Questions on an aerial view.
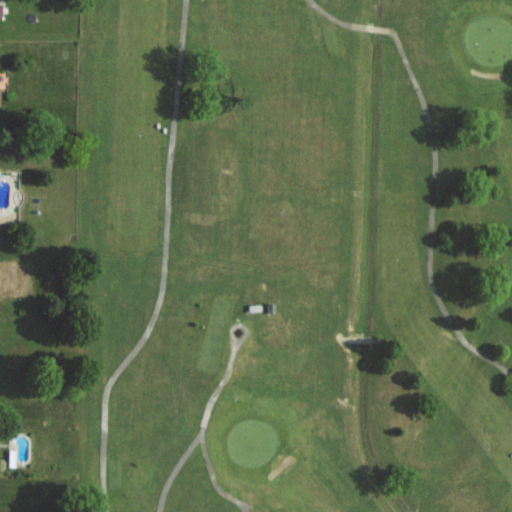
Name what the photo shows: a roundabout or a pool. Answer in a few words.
pool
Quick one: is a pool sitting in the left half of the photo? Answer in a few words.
Yes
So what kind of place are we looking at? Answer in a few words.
golf course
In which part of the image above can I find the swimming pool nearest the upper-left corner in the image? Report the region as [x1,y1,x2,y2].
[0,172,23,226]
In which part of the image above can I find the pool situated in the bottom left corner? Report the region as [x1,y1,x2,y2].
[9,435,30,467]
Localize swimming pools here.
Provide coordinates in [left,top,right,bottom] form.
[9,435,30,467]
[0,172,23,226]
